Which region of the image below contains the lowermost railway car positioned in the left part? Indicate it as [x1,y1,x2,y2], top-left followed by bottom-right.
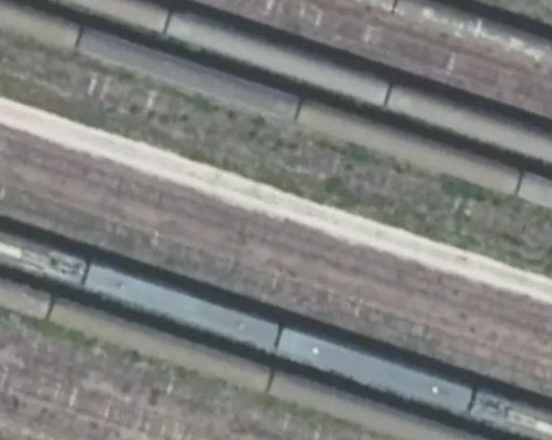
[82,261,279,352]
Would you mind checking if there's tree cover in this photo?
No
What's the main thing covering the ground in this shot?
paved ground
